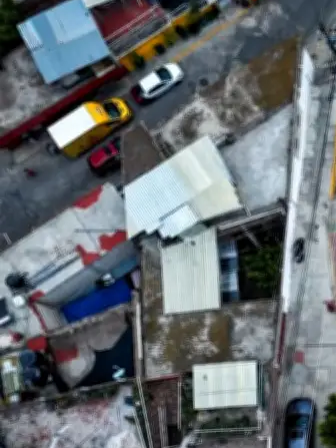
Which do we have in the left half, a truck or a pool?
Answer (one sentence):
Looking in the left half, you will find a truck.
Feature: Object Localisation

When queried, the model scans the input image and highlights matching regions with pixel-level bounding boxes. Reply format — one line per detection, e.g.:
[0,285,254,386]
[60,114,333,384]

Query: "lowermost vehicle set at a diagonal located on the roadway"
[78,131,131,176]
